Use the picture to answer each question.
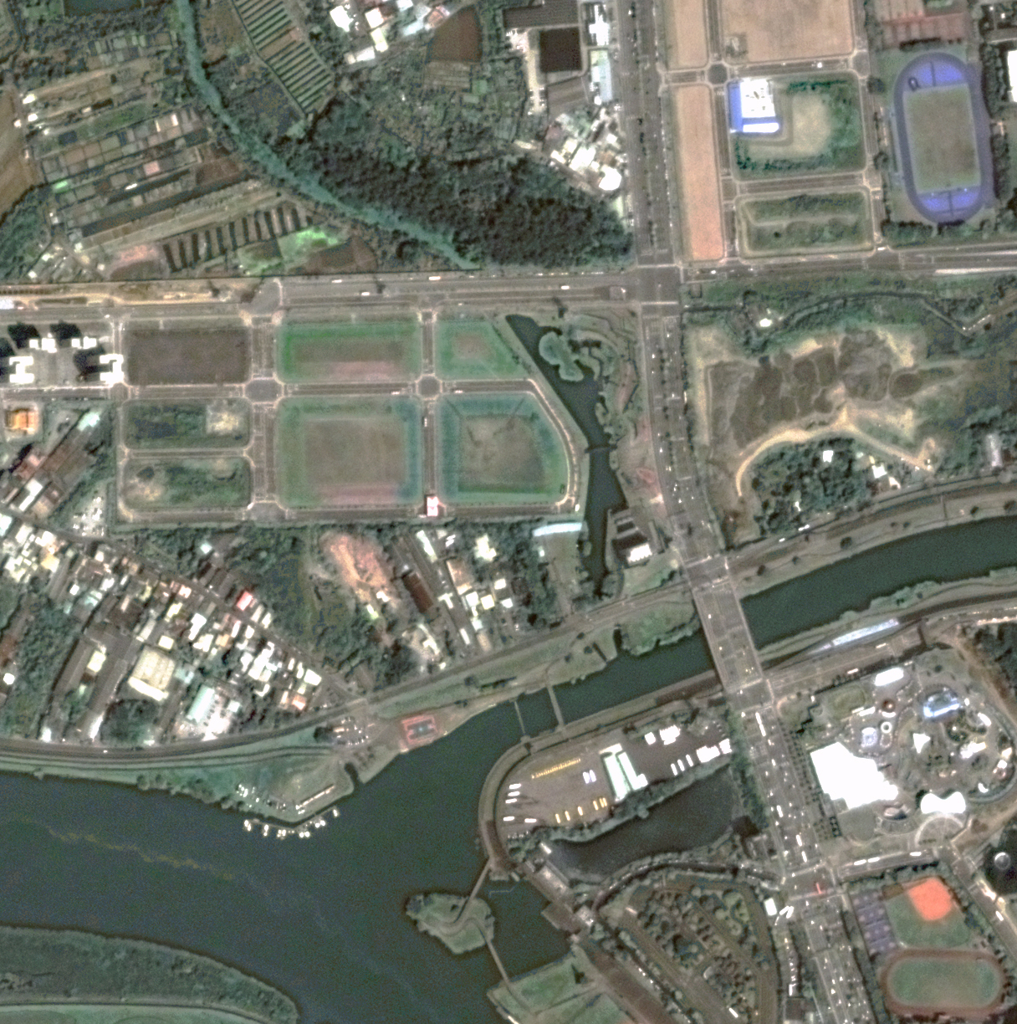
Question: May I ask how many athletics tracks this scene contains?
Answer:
2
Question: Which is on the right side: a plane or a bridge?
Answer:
bridge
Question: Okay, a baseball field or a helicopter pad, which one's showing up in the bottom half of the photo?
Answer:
baseball field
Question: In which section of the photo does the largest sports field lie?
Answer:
top right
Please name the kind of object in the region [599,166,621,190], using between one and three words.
building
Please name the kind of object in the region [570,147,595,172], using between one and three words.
building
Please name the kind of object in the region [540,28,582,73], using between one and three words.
house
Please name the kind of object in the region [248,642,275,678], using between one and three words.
house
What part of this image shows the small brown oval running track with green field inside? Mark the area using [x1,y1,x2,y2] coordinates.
[880,948,1005,1015]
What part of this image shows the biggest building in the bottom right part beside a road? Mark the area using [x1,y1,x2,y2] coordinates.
[810,742,898,809]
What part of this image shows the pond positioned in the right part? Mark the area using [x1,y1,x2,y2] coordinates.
[545,765,736,882]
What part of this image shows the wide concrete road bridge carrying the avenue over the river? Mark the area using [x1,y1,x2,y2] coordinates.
[694,577,767,690]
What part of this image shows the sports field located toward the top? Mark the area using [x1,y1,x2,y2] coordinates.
[893,53,993,223]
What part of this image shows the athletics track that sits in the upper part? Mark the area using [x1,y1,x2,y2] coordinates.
[893,53,993,223]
